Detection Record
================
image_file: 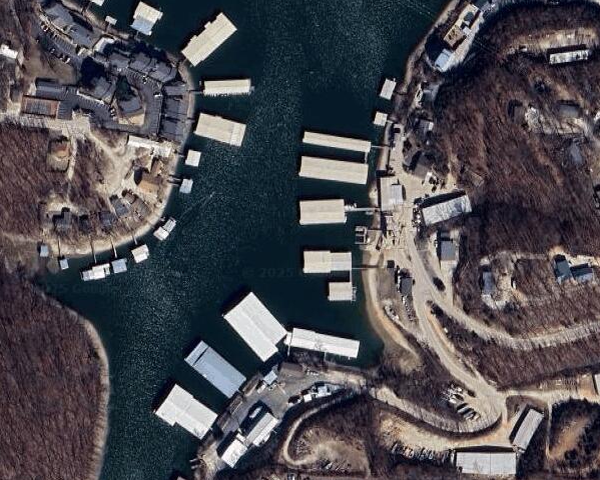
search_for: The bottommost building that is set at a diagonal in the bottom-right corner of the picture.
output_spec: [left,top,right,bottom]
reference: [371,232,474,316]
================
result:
[513,411,544,449]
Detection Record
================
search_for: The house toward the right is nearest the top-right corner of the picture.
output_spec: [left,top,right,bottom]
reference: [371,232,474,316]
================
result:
[550,50,589,63]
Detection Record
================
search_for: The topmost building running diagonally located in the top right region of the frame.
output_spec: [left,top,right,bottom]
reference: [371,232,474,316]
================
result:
[444,4,478,47]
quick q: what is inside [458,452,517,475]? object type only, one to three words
building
